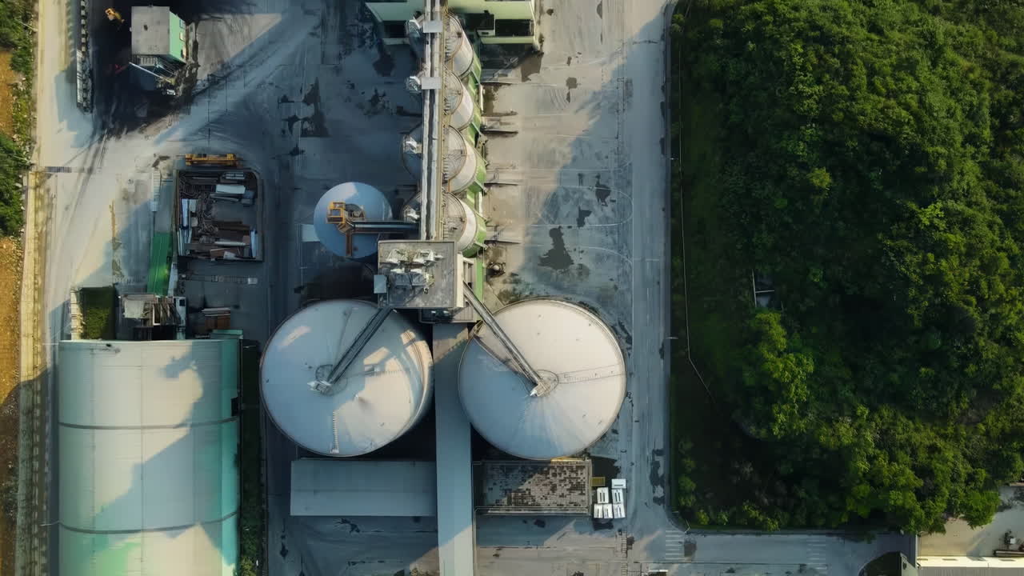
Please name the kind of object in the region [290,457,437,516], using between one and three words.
building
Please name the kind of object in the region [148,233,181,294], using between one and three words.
shed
